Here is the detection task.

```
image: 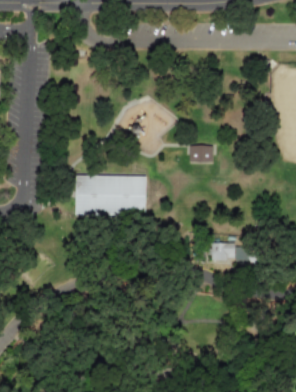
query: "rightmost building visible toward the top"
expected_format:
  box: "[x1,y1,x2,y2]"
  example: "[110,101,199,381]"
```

[186,145,216,165]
